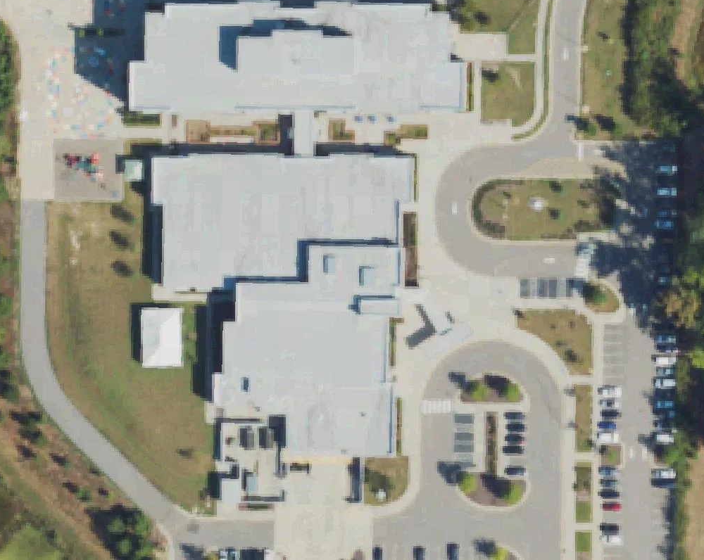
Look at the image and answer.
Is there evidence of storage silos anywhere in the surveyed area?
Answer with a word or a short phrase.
No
